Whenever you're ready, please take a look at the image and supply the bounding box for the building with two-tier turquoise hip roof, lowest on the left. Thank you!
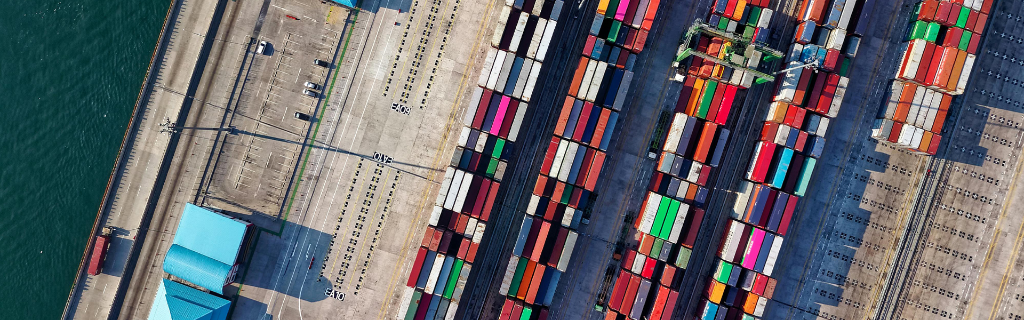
[148,279,234,320]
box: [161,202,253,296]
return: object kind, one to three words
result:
building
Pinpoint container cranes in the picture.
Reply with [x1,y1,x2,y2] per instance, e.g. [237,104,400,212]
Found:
[666,11,785,98]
